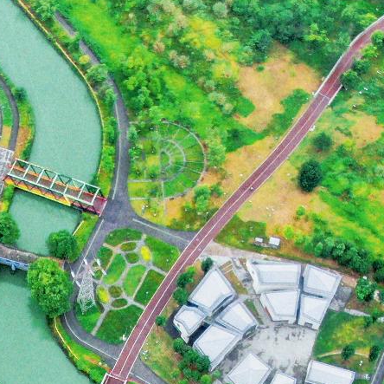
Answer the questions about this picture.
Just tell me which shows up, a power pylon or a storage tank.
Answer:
power pylon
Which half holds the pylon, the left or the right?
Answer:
left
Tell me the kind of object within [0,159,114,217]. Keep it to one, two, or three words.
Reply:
bridge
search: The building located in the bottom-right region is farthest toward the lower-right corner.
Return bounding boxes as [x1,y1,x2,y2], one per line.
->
[305,358,356,384]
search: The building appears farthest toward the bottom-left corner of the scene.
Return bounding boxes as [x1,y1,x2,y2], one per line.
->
[173,304,208,343]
